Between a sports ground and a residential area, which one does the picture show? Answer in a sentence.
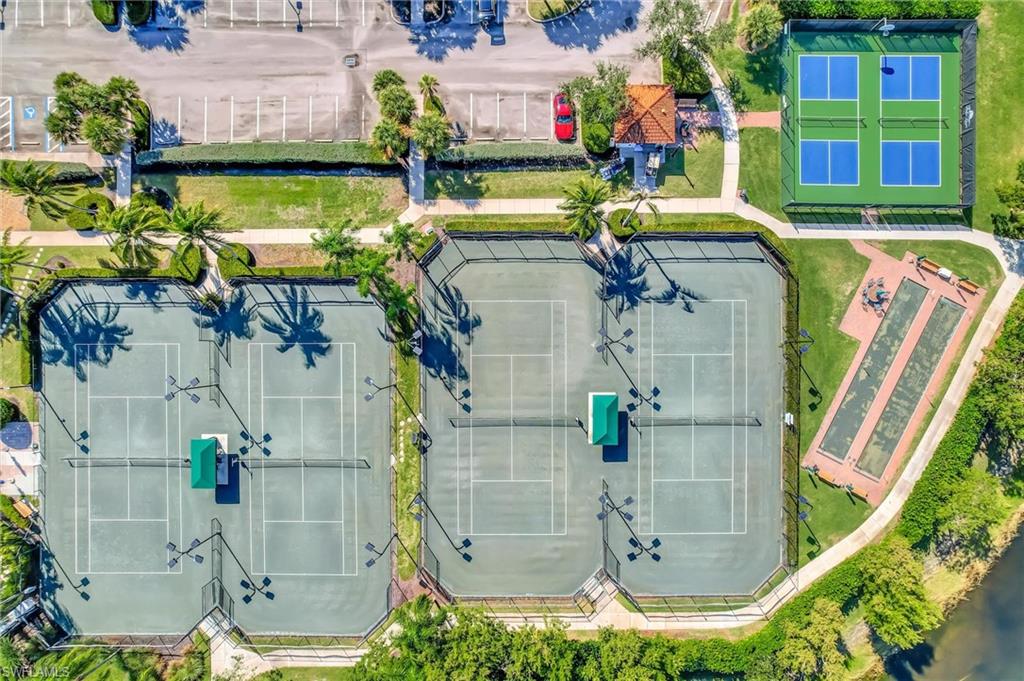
This image shows a sports ground.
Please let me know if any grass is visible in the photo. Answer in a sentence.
Yes, grass can be seen from above here.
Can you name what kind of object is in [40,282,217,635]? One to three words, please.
tennis court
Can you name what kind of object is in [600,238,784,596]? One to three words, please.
tennis court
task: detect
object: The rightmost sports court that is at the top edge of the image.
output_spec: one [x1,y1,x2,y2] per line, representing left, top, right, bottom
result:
[870,33,961,210]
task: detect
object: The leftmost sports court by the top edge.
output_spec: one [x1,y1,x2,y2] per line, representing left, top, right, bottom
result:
[781,33,870,210]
